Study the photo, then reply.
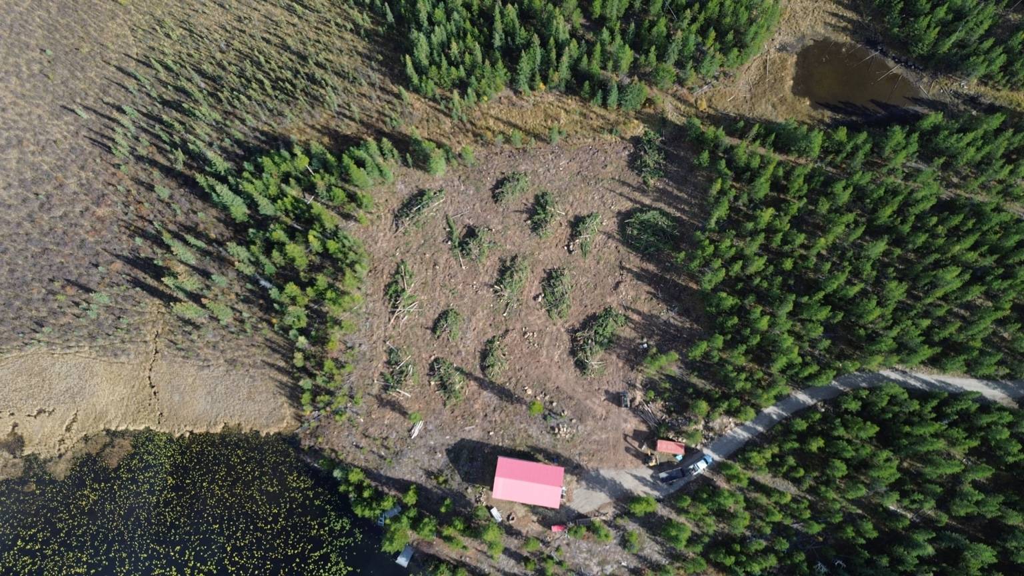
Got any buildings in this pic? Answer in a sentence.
Yes, you can see a building in this photo.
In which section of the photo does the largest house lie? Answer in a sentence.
The largest house sits in the bottom section of the image.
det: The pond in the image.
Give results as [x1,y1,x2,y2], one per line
[788,38,929,123]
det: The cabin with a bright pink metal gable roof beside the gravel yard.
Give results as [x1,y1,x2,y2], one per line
[492,457,567,509]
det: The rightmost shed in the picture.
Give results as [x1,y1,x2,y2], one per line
[655,439,686,455]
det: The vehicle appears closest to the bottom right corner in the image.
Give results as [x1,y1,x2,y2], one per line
[685,451,717,477]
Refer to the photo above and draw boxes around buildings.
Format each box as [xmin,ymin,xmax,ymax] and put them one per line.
[492,457,567,509]
[655,439,686,455]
